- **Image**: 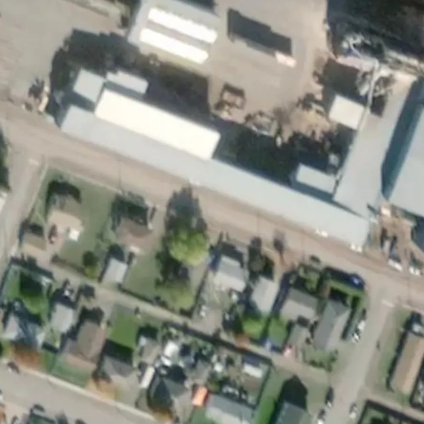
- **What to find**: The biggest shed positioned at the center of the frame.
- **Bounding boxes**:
[58,107,373,246]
